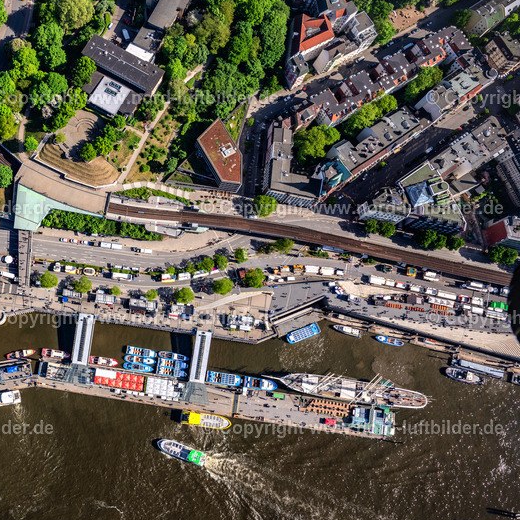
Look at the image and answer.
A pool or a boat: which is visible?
boat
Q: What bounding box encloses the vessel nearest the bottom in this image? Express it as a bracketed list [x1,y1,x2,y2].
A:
[158,441,207,467]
